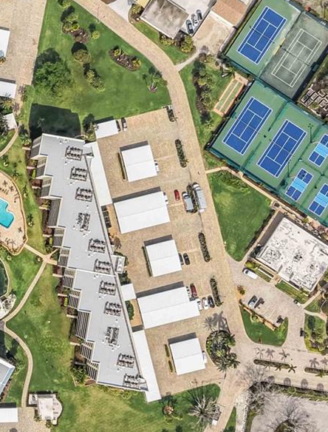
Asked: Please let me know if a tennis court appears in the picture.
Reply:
Yes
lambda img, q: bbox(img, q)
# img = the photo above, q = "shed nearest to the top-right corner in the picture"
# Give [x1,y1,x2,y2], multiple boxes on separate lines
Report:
[209,0,247,28]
